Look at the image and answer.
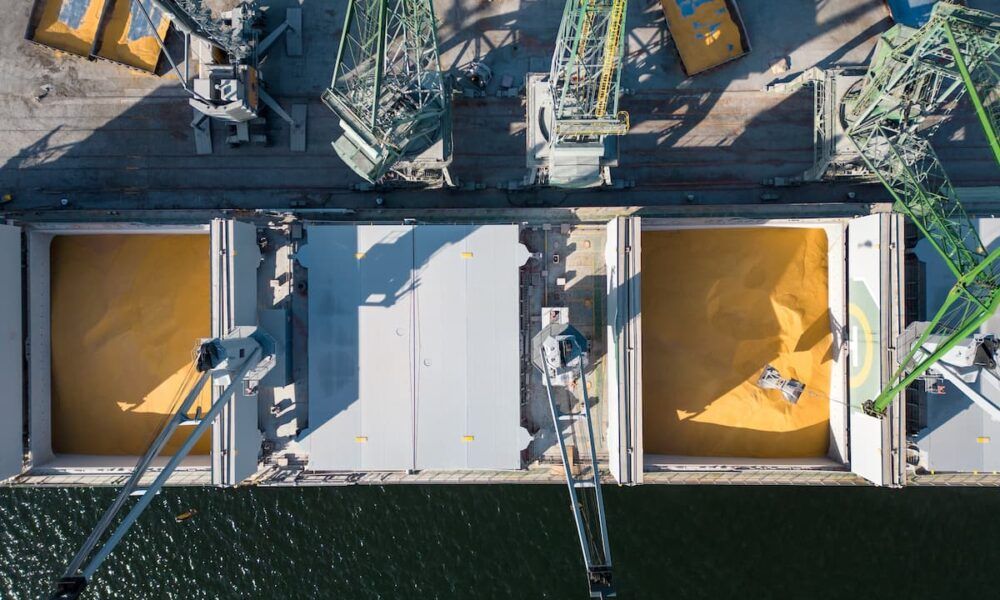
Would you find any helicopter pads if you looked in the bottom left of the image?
No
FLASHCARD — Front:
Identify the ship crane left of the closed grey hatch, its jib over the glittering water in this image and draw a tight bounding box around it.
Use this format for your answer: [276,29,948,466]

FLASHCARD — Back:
[56,301,297,600]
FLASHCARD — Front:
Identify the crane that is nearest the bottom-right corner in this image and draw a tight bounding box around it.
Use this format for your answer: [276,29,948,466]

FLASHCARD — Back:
[891,315,1000,433]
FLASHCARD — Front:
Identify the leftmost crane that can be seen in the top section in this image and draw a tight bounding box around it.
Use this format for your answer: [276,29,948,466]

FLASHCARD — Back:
[120,0,308,159]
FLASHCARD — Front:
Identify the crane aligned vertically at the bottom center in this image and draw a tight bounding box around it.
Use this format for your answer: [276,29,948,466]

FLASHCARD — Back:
[528,298,612,600]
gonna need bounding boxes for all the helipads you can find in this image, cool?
[849,279,880,422]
